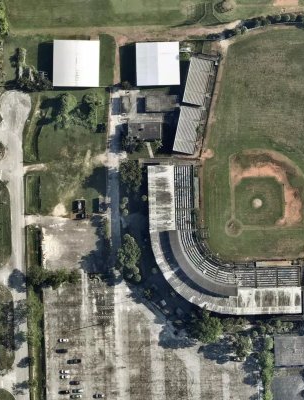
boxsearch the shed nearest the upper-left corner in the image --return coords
[53,40,100,87]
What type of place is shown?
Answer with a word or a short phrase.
sports ground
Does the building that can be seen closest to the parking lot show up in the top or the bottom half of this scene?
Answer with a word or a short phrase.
bottom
